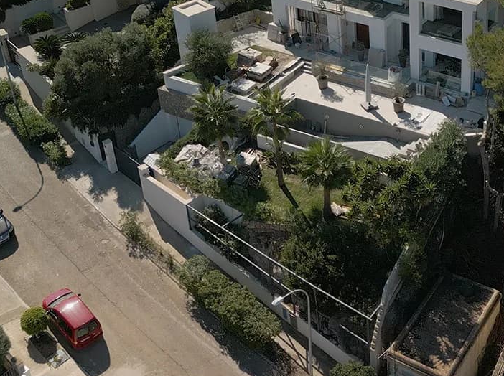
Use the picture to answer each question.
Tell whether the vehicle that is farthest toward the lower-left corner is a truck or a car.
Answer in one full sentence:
It turns out the vehicle that is farthest toward the lower-left corner is a car.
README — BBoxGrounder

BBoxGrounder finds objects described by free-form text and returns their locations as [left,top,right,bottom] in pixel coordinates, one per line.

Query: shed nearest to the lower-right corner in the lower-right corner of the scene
[385,272,503,376]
